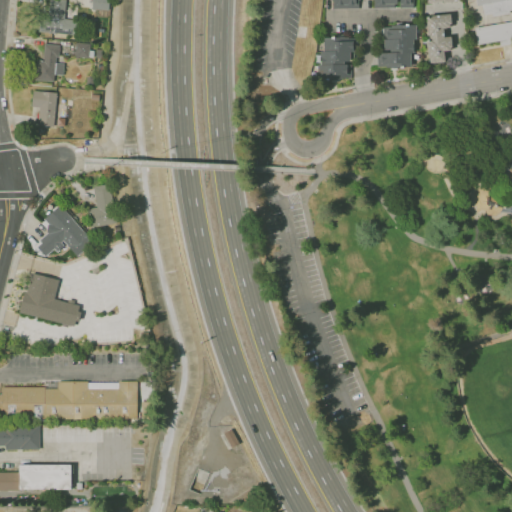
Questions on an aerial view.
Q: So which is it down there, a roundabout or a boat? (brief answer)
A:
roundabout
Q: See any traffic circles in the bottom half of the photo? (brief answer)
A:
No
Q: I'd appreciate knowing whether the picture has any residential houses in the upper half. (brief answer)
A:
Yes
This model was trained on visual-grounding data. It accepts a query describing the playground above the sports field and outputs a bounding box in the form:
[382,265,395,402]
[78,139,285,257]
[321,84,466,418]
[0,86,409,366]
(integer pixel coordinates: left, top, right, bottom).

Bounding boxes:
[473,181,504,219]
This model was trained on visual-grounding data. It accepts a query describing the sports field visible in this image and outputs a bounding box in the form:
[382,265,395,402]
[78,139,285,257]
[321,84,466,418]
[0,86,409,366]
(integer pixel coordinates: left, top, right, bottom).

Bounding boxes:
[460,332,512,479]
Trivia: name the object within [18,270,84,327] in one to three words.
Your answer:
building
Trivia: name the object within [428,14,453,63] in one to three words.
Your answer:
house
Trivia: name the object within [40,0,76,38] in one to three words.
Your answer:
house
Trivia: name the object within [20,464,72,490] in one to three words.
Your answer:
building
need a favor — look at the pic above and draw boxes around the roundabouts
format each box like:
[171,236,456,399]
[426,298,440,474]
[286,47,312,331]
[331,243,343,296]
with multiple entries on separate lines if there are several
[284,104,342,158]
